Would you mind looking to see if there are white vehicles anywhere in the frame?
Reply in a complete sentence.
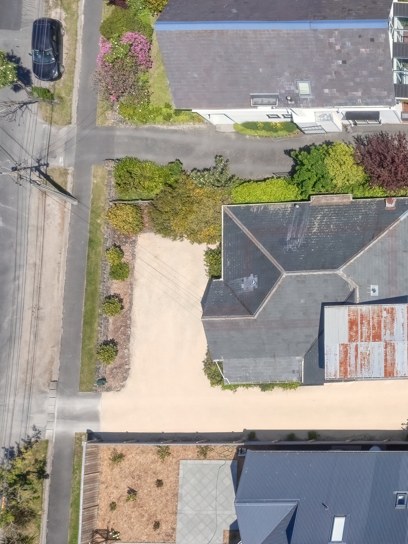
No, there isn't any white vehicle down there.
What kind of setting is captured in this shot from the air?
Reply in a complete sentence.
The area seen from above is a residential area.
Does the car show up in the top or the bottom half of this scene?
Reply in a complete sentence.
The car sits in the top half of the picture.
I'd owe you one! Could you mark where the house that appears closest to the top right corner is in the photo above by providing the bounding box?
[154,0,408,132]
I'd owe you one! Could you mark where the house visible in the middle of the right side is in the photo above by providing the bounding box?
[202,193,408,384]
